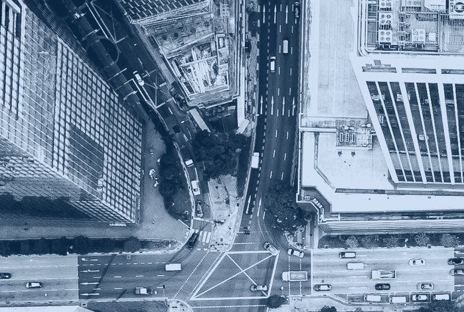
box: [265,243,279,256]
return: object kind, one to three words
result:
vehicle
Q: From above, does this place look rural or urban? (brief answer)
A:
urban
